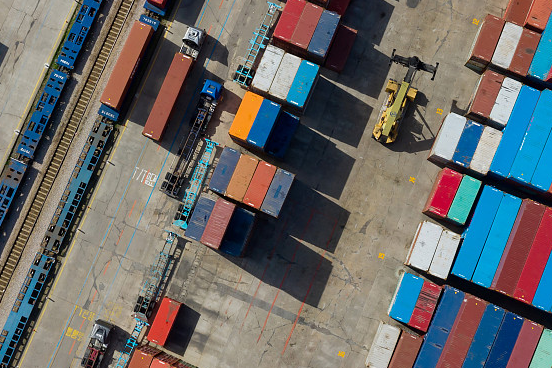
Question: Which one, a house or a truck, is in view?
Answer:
truck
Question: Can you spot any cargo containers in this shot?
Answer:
Yes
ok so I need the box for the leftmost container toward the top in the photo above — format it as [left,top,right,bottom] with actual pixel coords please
[102,21,157,111]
